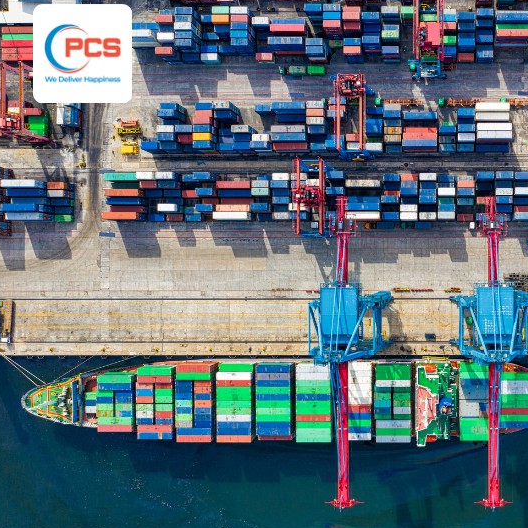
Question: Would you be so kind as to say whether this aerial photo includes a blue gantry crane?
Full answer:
Yes, a blue gantry crane can be made out from above.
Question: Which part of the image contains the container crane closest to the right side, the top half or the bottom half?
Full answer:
The bottom half of the photo is where the container crane closest to the right side is.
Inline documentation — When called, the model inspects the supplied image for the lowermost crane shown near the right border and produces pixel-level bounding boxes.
[449,191,528,514]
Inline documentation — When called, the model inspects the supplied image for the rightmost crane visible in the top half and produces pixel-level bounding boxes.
[409,0,450,77]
